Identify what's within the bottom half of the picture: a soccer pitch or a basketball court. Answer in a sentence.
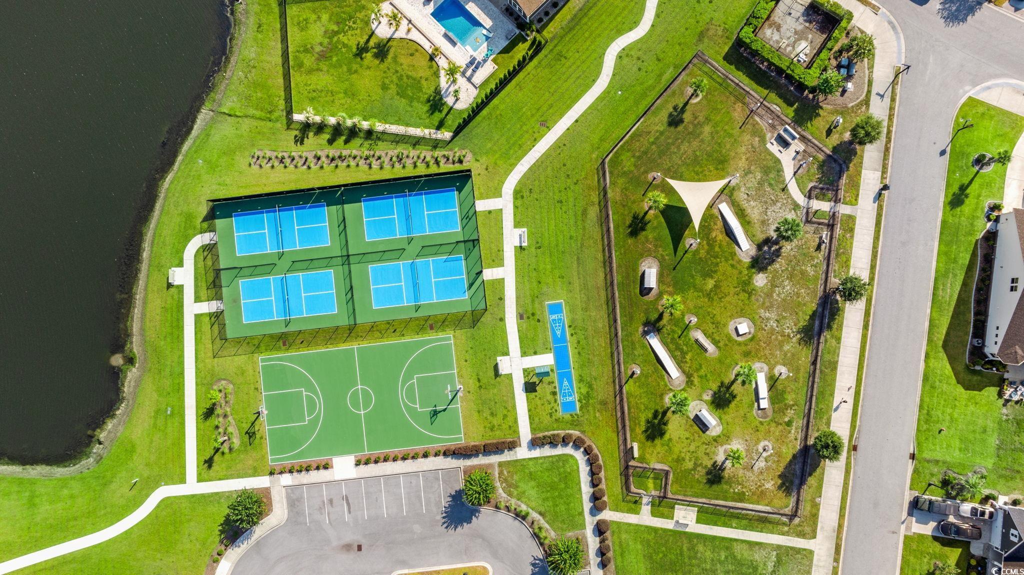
What appears within the bottom half of the picture is a basketball court.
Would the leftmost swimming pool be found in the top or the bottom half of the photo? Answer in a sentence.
Seen from above, the leftmost swimming pool lies in the top half of the view.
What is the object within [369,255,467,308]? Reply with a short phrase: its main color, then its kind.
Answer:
blue sports court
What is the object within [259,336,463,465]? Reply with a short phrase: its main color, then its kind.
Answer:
green basketball court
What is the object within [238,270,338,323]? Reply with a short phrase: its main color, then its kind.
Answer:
blue sports court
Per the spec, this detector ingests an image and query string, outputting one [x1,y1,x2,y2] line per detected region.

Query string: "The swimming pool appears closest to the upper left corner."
[428,0,494,54]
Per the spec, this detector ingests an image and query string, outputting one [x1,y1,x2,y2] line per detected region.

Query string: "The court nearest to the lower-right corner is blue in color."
[546,300,578,415]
